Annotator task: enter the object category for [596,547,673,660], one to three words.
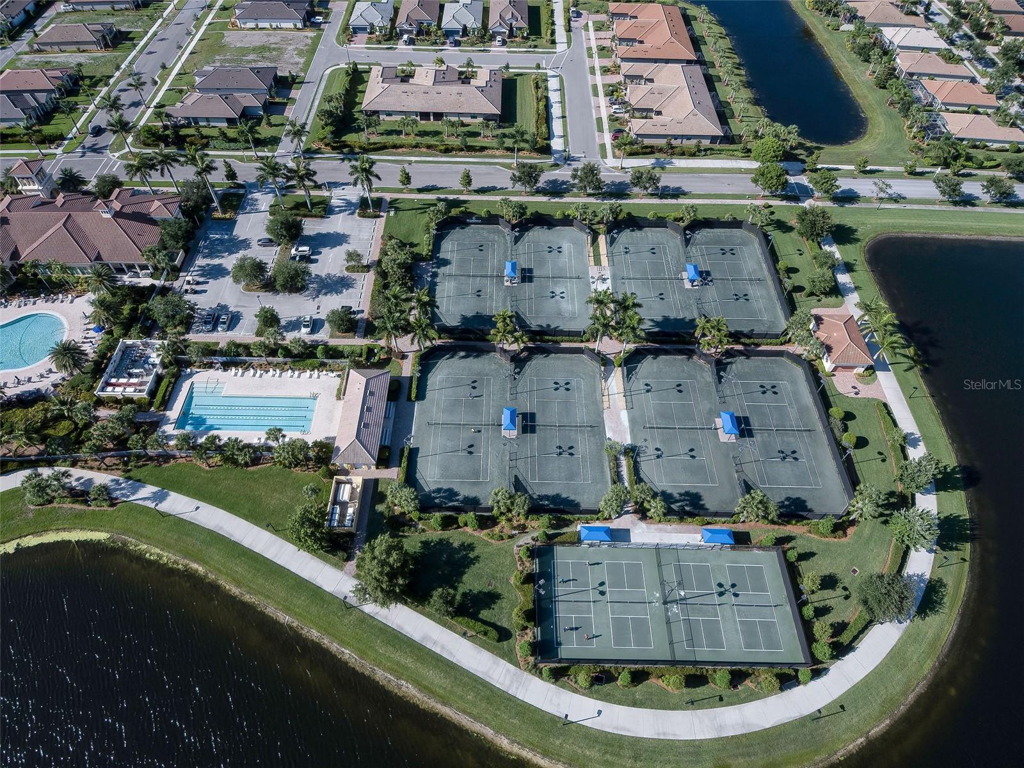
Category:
sports court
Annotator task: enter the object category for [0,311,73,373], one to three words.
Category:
swimming pool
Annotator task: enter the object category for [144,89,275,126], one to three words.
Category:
house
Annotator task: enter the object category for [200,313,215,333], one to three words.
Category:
car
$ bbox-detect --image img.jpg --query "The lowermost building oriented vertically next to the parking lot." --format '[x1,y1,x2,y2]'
[331,368,391,470]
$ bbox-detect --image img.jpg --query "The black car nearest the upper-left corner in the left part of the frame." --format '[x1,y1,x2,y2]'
[86,124,104,137]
